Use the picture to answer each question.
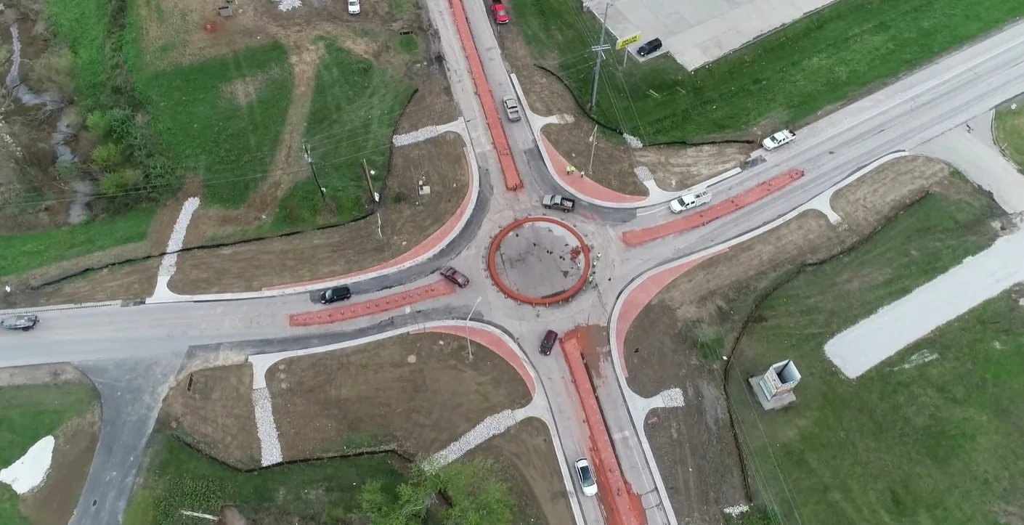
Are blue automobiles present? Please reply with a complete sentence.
No, there isn't any blue automobile down there.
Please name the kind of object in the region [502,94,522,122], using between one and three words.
vehicle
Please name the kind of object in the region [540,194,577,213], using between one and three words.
vehicle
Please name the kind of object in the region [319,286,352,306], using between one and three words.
car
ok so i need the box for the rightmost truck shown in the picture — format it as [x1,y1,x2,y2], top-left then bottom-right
[761,128,798,151]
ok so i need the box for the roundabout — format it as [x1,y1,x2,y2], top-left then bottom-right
[261,0,804,525]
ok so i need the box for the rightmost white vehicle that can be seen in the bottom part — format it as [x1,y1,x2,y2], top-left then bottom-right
[574,458,598,498]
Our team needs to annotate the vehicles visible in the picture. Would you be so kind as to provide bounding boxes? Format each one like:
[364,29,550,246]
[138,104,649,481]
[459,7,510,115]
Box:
[670,187,714,211]
[491,0,507,22]
[502,94,522,122]
[319,286,352,306]
[540,194,577,213]
[574,458,598,498]
[635,35,664,57]
[439,264,471,290]
[347,0,360,12]
[538,327,560,359]
[761,128,798,151]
